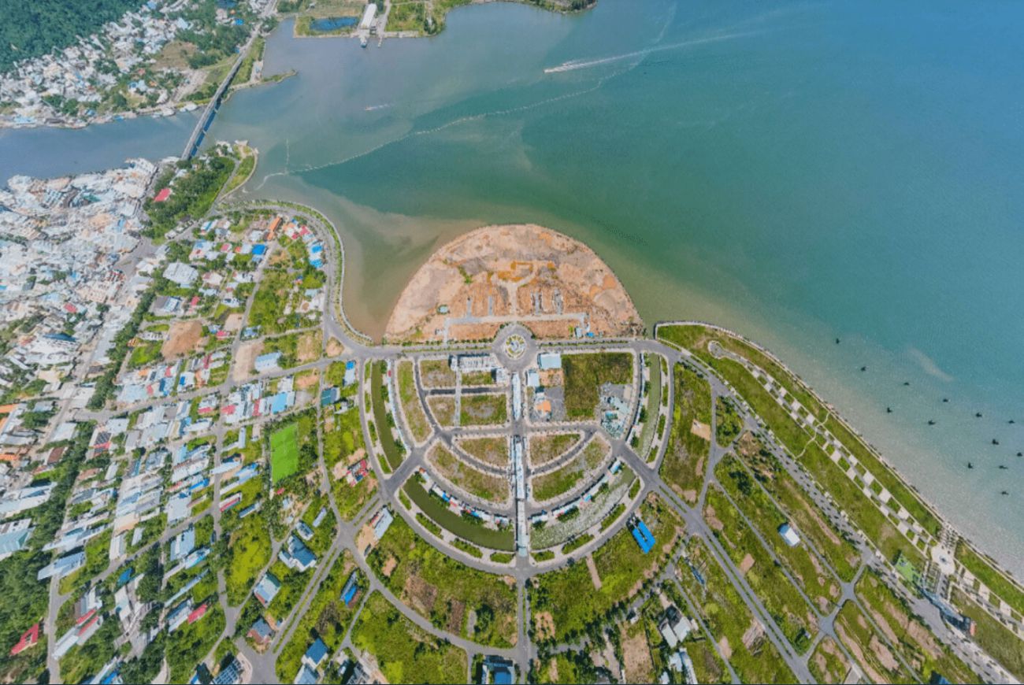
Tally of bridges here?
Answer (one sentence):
The picture shows 1 bridge.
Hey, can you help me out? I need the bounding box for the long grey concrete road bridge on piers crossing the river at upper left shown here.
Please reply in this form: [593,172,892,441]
[182,29,261,164]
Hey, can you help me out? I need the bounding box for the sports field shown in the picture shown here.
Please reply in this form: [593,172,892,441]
[271,424,299,482]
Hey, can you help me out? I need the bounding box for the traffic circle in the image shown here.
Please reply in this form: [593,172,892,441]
[492,323,539,369]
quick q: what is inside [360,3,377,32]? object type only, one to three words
building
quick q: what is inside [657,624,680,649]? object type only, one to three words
house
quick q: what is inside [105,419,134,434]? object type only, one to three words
house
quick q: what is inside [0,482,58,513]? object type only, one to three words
building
